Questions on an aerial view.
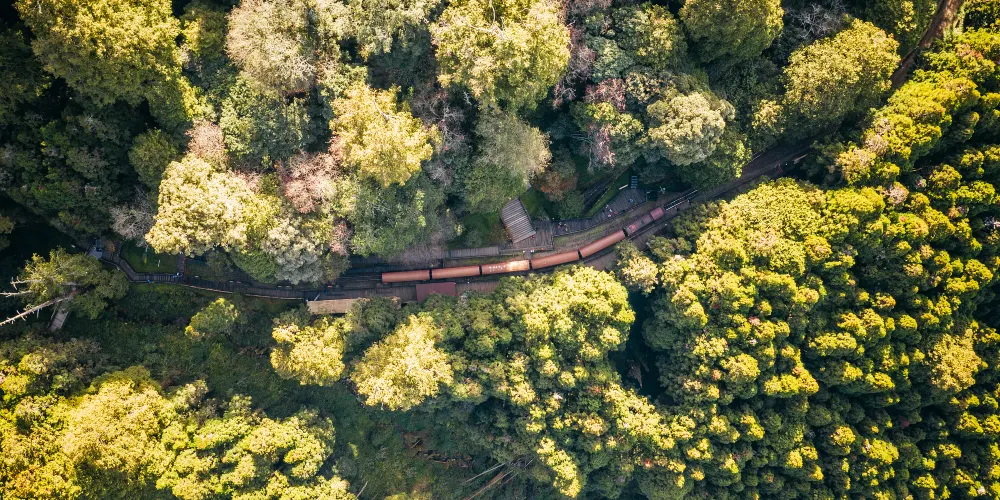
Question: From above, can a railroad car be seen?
Yes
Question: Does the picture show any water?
No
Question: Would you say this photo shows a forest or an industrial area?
forest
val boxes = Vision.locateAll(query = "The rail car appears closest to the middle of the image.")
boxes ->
[481,258,529,275]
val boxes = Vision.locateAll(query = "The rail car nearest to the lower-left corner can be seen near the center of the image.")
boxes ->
[383,267,432,282]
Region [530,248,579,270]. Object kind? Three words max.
rail car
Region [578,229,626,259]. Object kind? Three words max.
rail car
